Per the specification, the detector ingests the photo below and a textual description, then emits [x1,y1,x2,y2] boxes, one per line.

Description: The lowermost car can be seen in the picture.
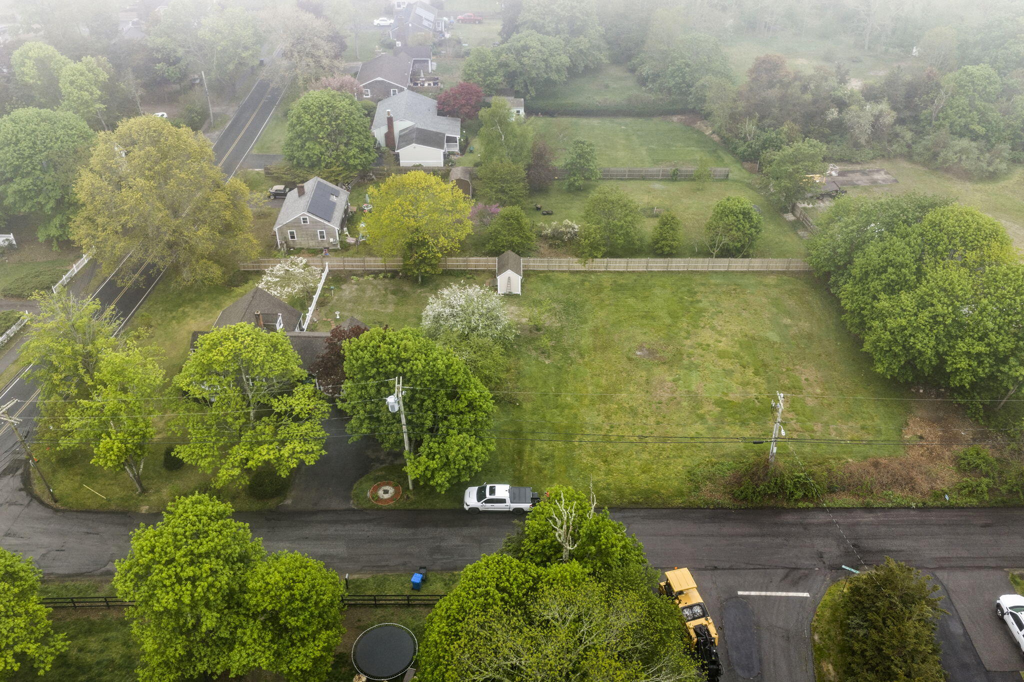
[992,597,1024,642]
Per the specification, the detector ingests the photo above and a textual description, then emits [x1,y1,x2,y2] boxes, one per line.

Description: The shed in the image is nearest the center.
[496,249,523,294]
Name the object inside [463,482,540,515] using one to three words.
truck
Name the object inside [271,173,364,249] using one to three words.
house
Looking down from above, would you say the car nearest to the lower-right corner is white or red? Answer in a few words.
white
